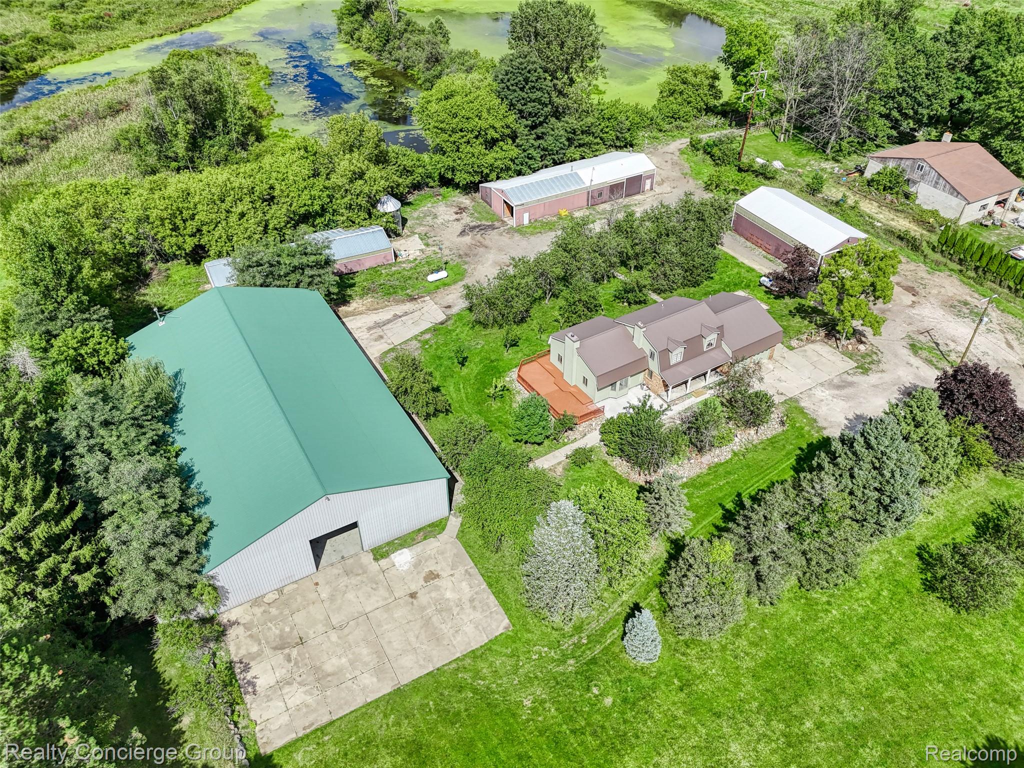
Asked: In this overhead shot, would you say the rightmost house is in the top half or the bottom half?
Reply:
top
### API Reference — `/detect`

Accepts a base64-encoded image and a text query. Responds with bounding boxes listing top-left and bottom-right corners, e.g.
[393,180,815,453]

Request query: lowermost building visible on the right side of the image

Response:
[549,291,782,405]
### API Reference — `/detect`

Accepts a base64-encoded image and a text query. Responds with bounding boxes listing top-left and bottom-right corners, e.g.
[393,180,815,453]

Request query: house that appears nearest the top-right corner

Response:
[862,128,1024,225]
